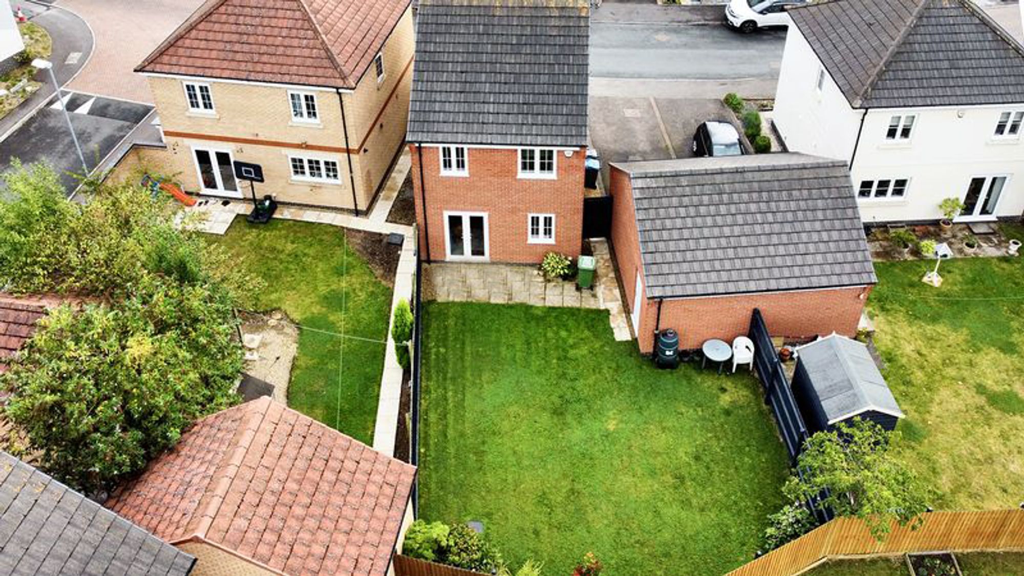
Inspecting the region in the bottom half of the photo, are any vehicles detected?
No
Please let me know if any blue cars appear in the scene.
No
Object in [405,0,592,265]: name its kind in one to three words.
house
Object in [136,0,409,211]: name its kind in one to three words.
house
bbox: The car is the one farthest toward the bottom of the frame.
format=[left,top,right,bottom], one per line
[694,119,750,158]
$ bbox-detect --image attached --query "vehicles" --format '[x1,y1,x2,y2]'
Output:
[694,119,750,158]
[722,0,799,34]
